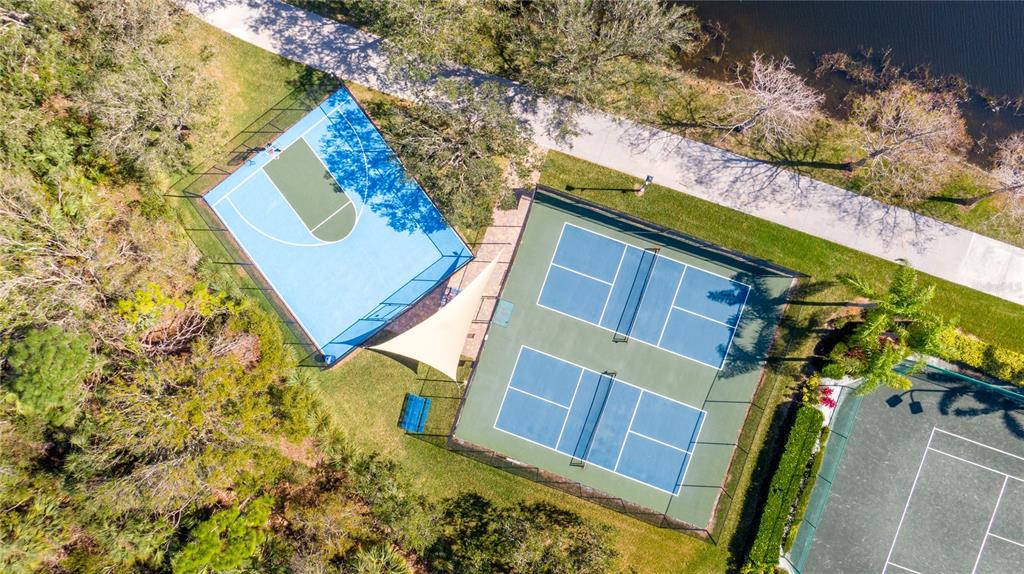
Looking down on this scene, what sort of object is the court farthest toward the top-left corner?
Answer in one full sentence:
The court farthest toward the top-left corner appears to be a basketball court.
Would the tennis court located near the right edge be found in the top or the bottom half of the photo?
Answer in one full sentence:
The tennis court located near the right edge is in the bottom half of the image.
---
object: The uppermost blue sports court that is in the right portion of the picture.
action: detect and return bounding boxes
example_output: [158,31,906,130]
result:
[537,223,750,369]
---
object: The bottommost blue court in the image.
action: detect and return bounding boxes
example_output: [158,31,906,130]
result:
[495,346,706,495]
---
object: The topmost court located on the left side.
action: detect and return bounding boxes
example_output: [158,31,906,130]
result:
[202,86,473,363]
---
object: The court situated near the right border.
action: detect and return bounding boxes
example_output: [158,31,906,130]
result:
[803,361,1024,574]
